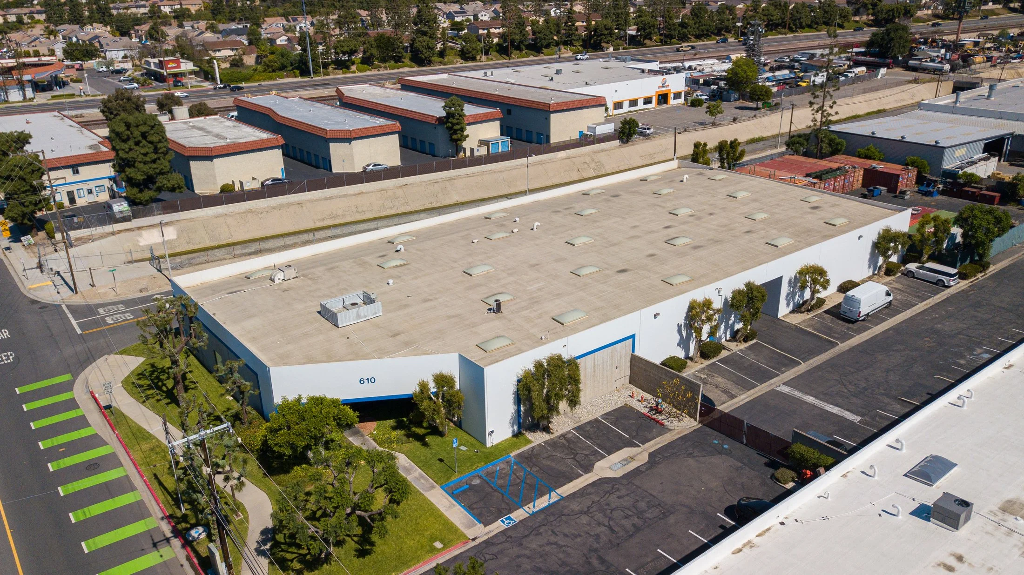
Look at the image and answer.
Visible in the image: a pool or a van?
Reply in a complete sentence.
Looking from above, you can make out a van.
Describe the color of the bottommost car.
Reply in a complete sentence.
From above, the bottommost car appears black.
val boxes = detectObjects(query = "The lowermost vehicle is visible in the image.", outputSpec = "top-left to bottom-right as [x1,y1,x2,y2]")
[735,482,794,517]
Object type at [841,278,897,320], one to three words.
van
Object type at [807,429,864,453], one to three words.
car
